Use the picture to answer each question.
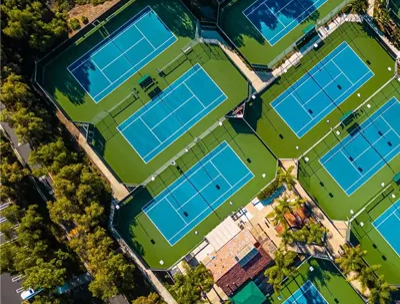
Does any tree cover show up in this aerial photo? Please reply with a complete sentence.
Yes, tree cover shows up in the scene.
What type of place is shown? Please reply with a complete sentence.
This image shows a sports ground.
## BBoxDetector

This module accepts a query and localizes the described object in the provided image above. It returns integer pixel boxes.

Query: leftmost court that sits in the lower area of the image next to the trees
[116,116,277,270]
